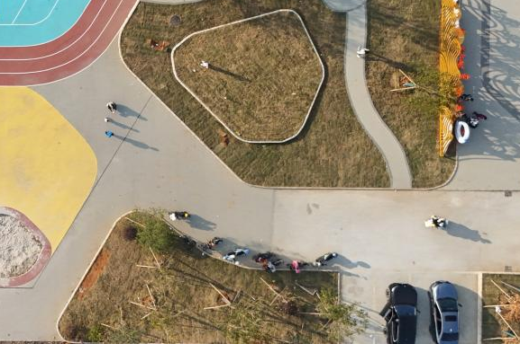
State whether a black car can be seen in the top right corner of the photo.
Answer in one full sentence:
No, there is no black car in the top right corner of the photo.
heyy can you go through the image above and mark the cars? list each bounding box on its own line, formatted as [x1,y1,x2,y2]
[425,281,463,344]
[375,283,422,344]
